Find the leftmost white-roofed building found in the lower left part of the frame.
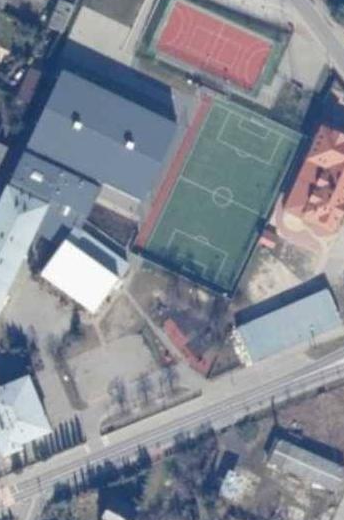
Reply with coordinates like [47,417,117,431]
[0,376,52,458]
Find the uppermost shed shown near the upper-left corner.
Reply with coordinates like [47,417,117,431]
[47,1,74,32]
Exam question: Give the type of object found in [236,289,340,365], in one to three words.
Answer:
building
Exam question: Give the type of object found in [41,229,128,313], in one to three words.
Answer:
building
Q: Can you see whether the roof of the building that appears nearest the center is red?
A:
No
